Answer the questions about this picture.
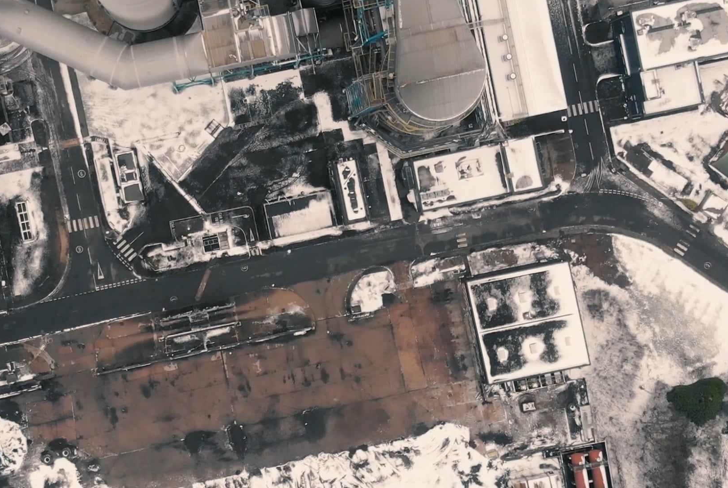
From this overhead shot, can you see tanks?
Yes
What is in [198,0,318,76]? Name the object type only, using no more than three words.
house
